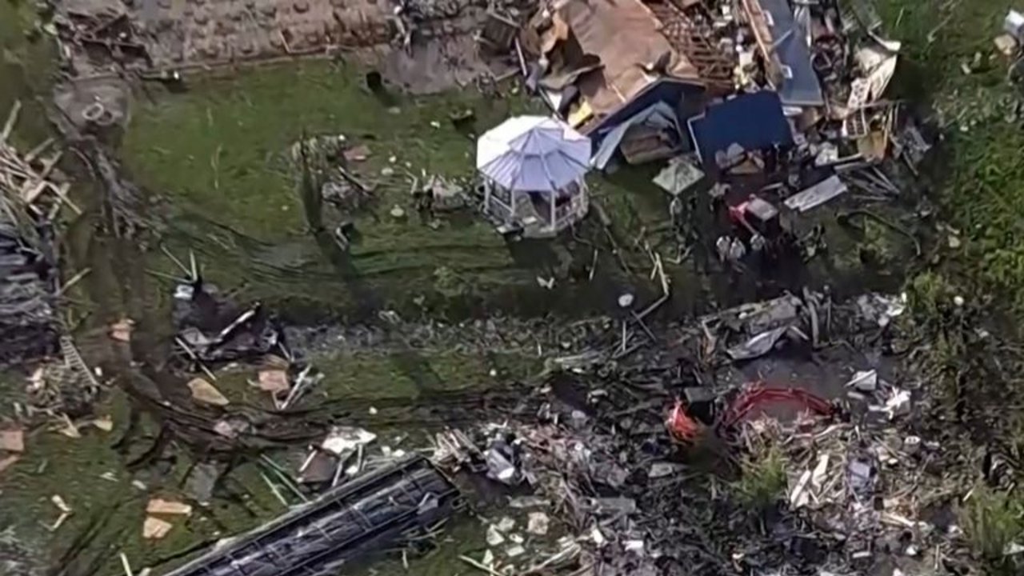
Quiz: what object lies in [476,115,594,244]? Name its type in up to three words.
gazebo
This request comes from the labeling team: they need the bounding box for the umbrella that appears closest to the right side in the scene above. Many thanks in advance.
[652,157,705,197]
